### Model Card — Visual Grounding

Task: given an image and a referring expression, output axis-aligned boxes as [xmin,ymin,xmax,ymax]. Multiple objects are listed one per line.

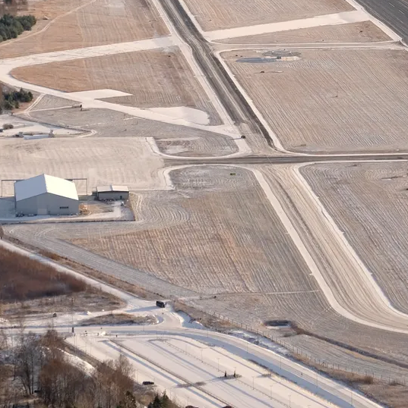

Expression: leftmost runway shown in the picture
[1,34,178,65]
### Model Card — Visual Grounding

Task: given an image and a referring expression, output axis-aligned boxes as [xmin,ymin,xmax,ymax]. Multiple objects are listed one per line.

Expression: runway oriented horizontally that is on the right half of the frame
[200,11,371,42]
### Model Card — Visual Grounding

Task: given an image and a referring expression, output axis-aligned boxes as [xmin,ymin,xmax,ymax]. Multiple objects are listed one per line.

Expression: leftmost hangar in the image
[0,174,94,216]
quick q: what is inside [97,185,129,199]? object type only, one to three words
building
